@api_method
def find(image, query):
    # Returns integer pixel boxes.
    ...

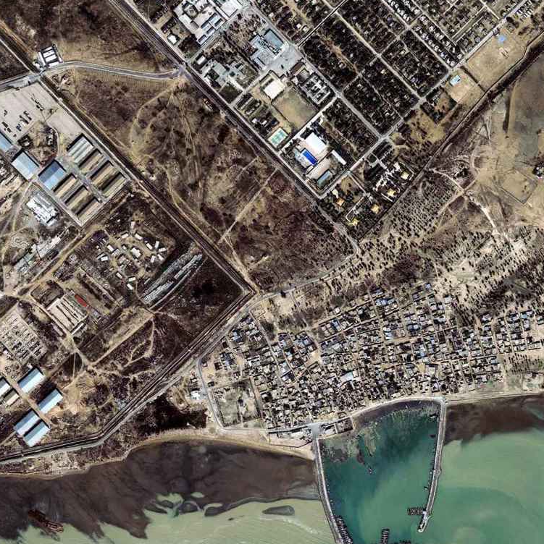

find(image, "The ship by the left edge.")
[27,511,63,530]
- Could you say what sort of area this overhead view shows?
residential area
